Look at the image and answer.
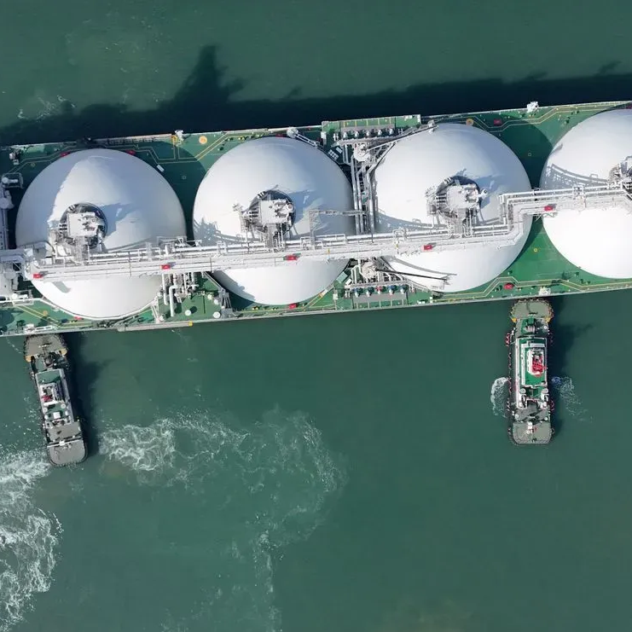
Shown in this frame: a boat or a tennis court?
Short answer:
boat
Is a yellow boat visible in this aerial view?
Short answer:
No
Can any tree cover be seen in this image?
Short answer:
No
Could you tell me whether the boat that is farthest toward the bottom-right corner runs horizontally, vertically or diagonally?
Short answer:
vertically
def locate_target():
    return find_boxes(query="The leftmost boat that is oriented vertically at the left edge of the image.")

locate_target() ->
[21,332,90,467]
